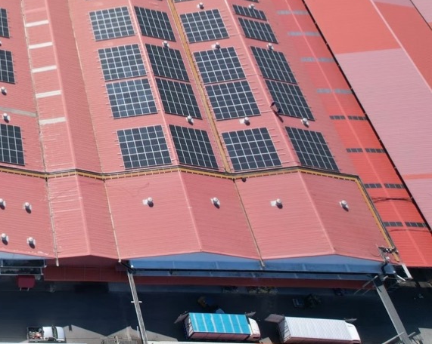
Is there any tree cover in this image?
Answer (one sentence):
No, there's no tree cover in this view.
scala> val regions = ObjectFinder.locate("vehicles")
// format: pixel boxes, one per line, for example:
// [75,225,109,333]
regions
[25,326,68,344]
[177,313,264,344]
[270,318,364,344]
